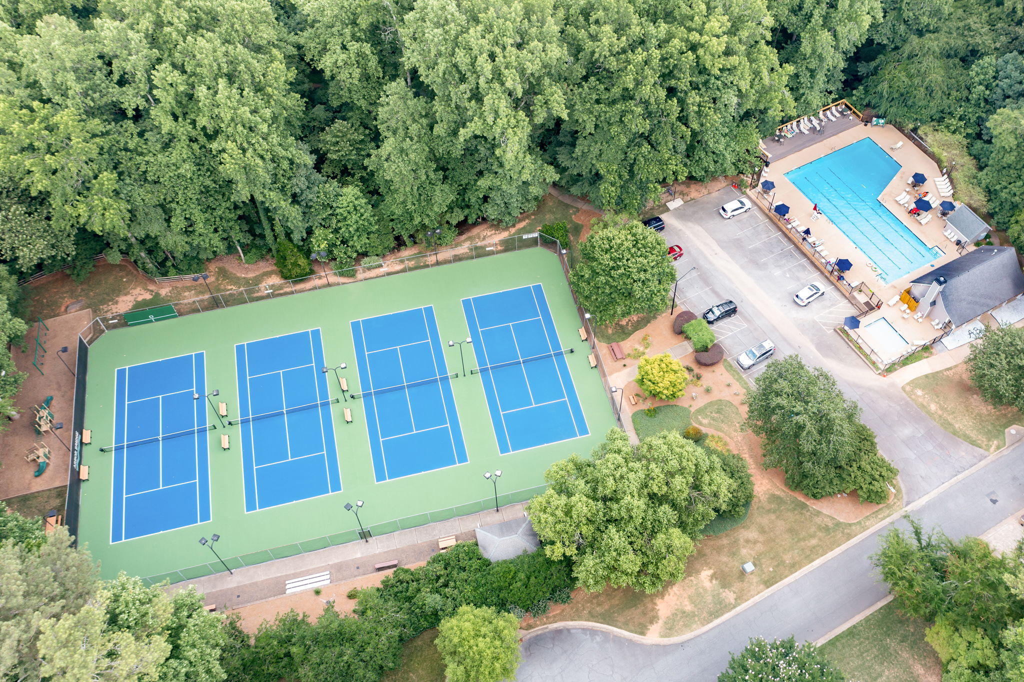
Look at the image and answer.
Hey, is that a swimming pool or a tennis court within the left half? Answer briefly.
tennis court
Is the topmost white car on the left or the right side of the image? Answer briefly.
right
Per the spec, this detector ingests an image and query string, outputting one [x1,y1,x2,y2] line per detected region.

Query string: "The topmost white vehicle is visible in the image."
[720,199,754,219]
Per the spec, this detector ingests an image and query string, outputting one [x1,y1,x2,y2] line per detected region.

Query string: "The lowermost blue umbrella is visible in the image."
[841,315,862,336]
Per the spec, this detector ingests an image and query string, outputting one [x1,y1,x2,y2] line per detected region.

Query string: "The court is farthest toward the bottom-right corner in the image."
[461,283,590,455]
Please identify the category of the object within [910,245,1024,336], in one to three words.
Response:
building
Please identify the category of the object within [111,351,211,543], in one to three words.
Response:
tennis court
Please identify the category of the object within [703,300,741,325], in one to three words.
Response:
car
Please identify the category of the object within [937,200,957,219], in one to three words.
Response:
umbrella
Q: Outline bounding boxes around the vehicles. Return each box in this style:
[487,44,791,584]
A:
[795,282,828,307]
[638,216,666,234]
[703,300,741,325]
[655,245,686,266]
[720,199,754,219]
[738,341,777,370]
